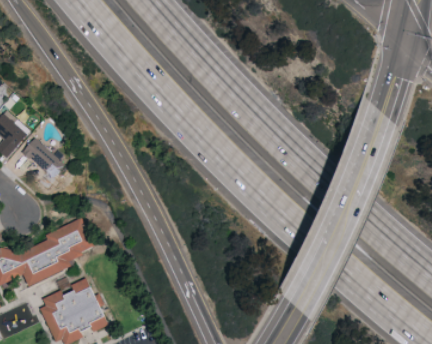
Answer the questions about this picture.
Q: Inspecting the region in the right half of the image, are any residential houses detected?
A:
No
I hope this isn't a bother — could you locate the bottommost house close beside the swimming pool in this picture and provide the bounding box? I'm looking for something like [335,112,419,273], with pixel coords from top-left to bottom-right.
[22,136,63,173]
